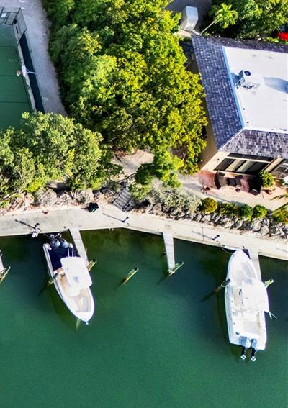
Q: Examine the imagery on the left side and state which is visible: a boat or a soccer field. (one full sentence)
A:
There is a boat on the left side.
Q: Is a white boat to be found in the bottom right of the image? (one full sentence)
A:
Yes, a white boat is visible in the bottom right of the image.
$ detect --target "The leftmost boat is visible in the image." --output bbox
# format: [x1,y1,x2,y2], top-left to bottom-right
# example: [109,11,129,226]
[45,238,93,323]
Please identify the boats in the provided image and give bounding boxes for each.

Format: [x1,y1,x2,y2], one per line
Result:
[45,238,93,323]
[220,250,277,363]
